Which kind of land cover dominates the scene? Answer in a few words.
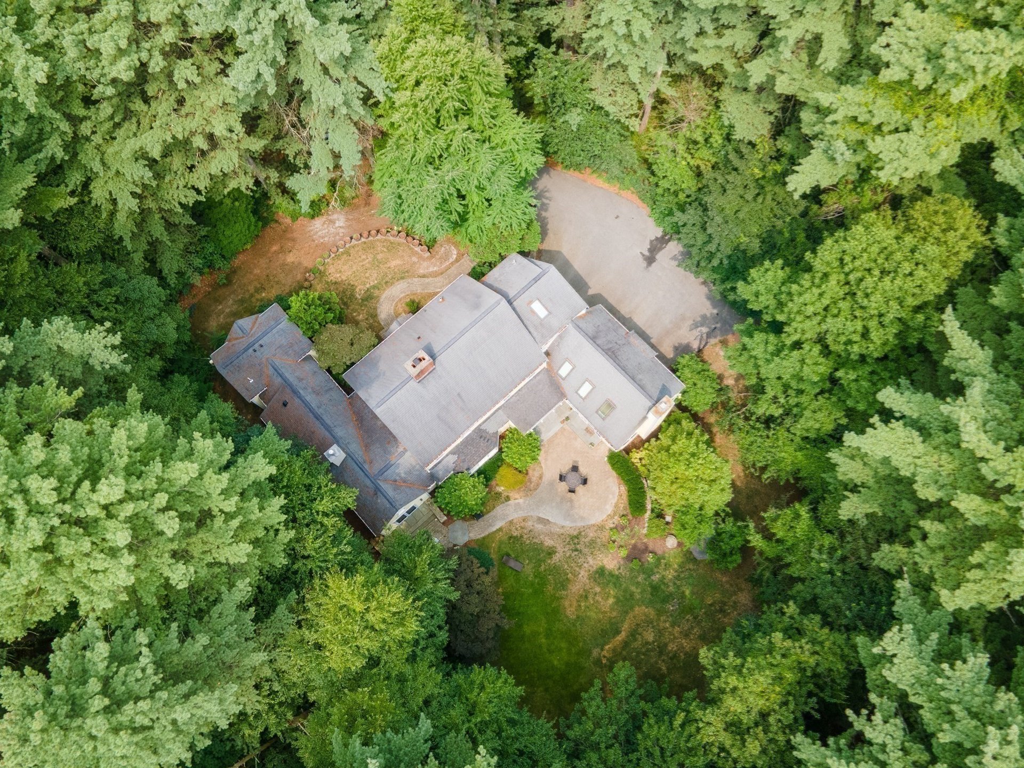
trees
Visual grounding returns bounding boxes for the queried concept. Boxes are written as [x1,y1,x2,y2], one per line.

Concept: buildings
[213,249,682,538]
